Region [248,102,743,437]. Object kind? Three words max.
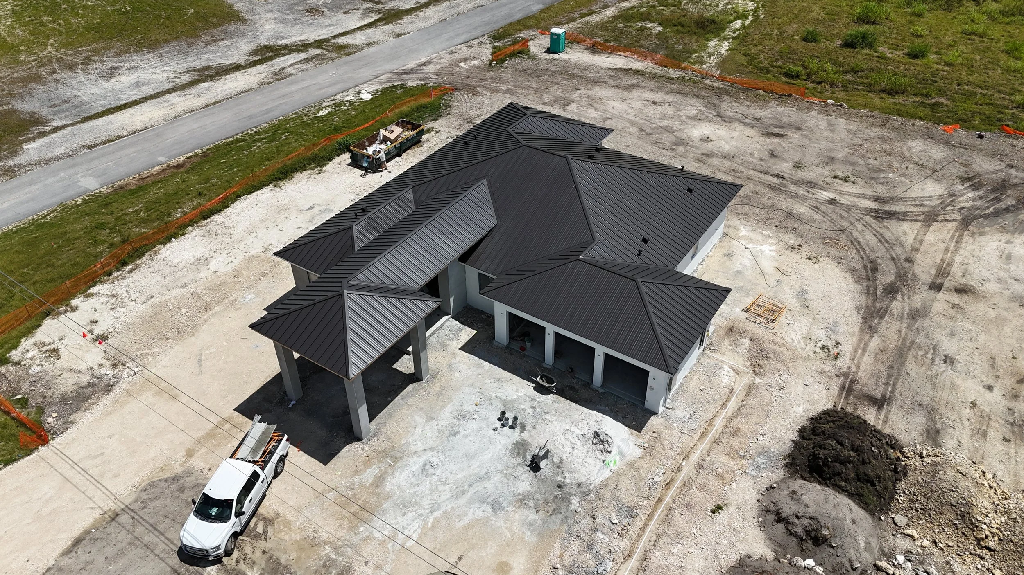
house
